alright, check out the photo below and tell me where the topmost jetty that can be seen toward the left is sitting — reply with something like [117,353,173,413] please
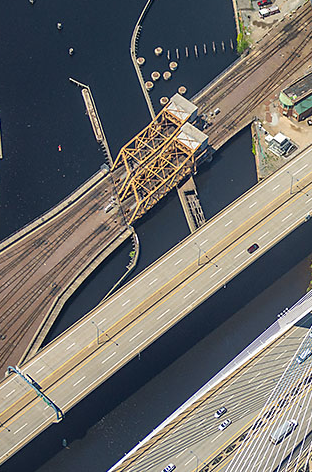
[81,88,103,142]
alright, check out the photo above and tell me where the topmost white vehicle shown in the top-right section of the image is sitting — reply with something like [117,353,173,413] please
[260,4,285,18]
